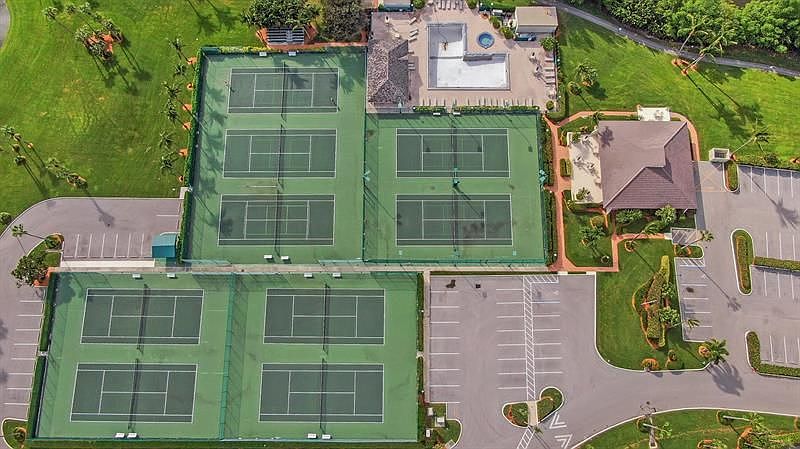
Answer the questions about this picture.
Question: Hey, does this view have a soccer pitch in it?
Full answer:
No, the scene contains no soccer pitch.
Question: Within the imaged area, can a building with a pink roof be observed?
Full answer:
No, I can't see a single building with a pink roof in this photo.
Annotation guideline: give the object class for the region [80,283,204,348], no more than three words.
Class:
tennis court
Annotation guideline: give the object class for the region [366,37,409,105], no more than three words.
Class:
shed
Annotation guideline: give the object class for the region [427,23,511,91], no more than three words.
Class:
swimming pool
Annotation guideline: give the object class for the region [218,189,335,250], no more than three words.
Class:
tennis court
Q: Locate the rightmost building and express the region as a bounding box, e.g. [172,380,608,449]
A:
[598,120,697,217]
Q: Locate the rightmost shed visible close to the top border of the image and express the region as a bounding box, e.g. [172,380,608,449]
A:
[514,6,559,32]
